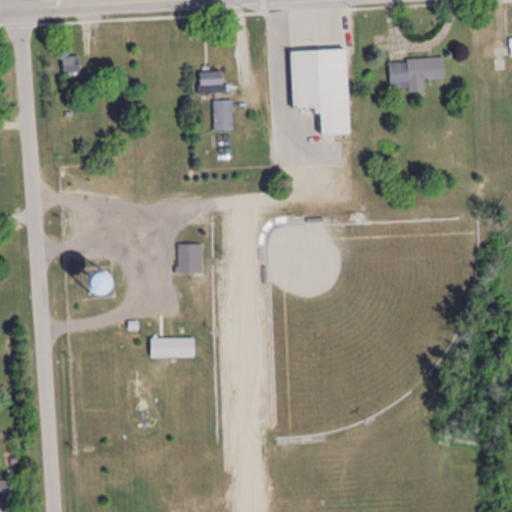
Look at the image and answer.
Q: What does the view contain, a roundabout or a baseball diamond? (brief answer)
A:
baseball diamond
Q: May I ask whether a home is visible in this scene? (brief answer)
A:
Yes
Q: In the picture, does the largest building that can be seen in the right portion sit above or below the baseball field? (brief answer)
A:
above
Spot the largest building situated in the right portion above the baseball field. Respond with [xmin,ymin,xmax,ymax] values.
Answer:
[290,48,351,133]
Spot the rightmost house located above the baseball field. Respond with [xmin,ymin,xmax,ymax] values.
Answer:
[389,54,446,92]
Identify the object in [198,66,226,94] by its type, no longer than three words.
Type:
house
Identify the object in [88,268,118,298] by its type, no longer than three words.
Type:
water tower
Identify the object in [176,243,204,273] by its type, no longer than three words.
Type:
building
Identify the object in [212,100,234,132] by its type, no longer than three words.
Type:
building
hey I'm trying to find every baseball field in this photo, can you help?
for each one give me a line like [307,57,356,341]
[262,212,480,446]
